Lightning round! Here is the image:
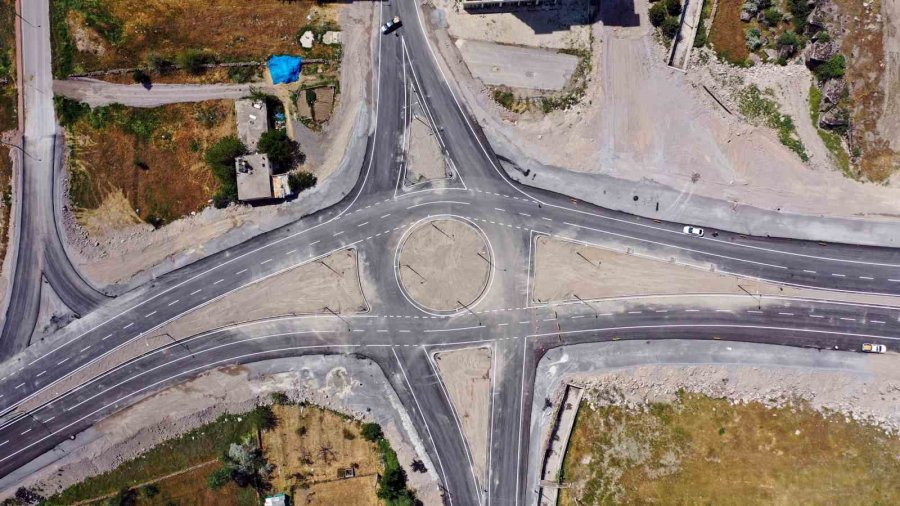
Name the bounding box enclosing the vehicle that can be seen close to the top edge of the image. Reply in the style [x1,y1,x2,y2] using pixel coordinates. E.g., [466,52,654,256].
[380,13,403,33]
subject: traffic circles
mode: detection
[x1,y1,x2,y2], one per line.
[369,190,519,340]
